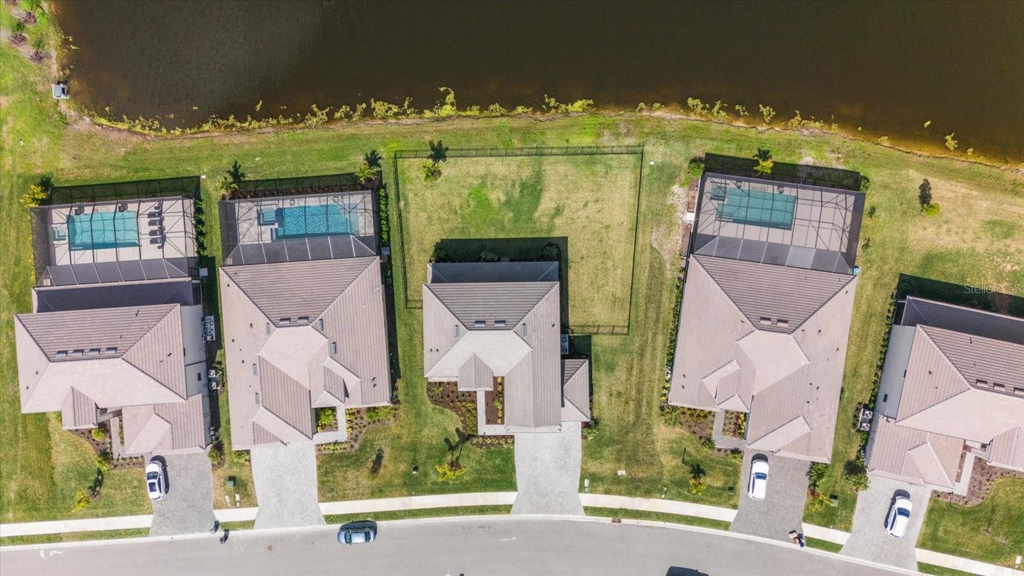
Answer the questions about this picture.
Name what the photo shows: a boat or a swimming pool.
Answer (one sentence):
Visible in the photo is a swimming pool.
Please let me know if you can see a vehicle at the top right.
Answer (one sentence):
No, there is no vehicle at the top right.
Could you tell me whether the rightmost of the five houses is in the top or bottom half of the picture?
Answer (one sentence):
Seen from above, the rightmost of the five houses lies in the bottom half of the view.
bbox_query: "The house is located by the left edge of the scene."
[14,277,212,454]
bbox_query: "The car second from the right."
[748,459,769,499]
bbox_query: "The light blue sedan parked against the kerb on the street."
[338,523,377,543]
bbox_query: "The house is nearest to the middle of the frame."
[422,260,590,434]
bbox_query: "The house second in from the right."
[668,253,854,464]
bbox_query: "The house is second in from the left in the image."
[219,255,391,450]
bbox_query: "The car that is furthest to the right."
[885,495,911,537]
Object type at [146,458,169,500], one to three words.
car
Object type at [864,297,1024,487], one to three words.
house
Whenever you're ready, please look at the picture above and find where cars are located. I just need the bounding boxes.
[748,459,769,499]
[338,523,377,543]
[885,495,911,537]
[146,458,169,500]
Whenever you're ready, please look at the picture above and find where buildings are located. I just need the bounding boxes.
[422,260,590,434]
[864,297,1024,487]
[14,277,212,454]
[668,253,854,464]
[219,255,391,450]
